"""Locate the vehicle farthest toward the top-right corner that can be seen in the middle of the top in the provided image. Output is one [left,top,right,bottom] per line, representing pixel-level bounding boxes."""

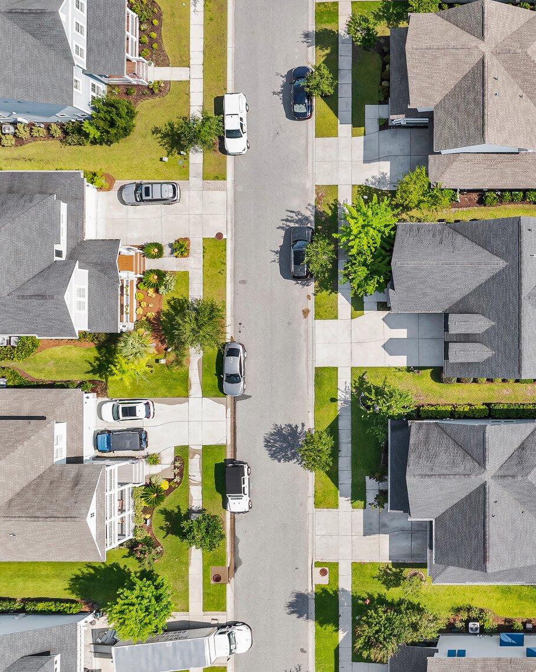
[287,64,313,119]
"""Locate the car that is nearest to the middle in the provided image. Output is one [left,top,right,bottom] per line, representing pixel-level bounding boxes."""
[221,341,247,396]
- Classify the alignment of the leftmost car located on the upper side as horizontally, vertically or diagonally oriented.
horizontally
